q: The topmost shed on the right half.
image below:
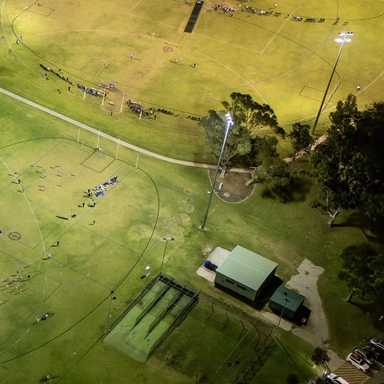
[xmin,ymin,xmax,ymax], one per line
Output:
[214,245,277,301]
